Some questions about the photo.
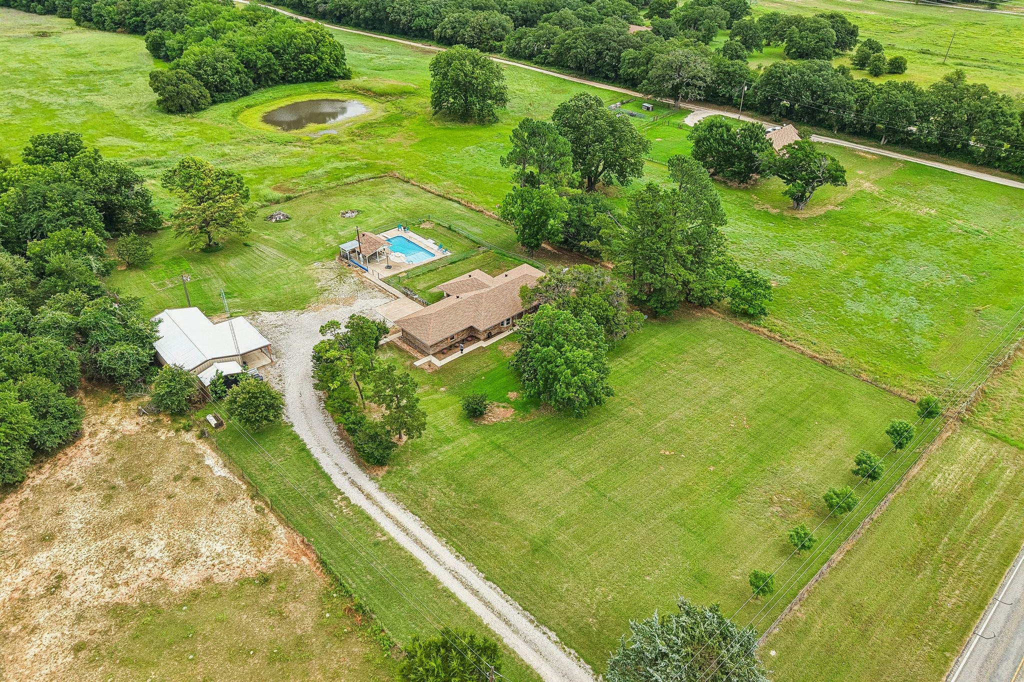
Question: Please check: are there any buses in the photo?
No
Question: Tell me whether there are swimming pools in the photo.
Yes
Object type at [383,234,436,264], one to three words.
swimming pool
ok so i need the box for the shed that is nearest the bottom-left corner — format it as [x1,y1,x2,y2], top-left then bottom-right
[155,304,273,400]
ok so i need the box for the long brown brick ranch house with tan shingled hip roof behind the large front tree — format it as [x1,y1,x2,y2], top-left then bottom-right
[394,263,572,354]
